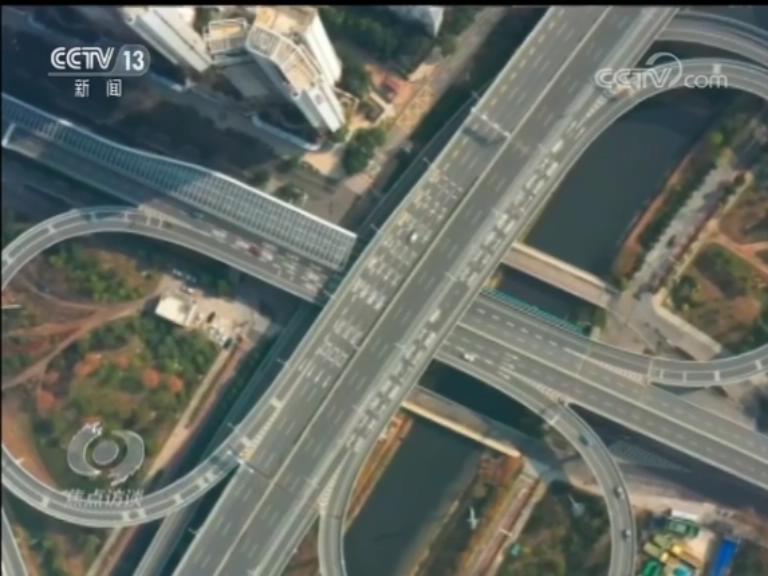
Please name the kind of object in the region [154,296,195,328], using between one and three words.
shed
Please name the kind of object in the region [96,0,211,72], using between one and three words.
building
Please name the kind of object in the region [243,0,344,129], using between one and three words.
building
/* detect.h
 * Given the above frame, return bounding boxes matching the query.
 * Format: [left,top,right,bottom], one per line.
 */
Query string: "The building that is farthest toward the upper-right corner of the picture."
[398,0,446,35]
